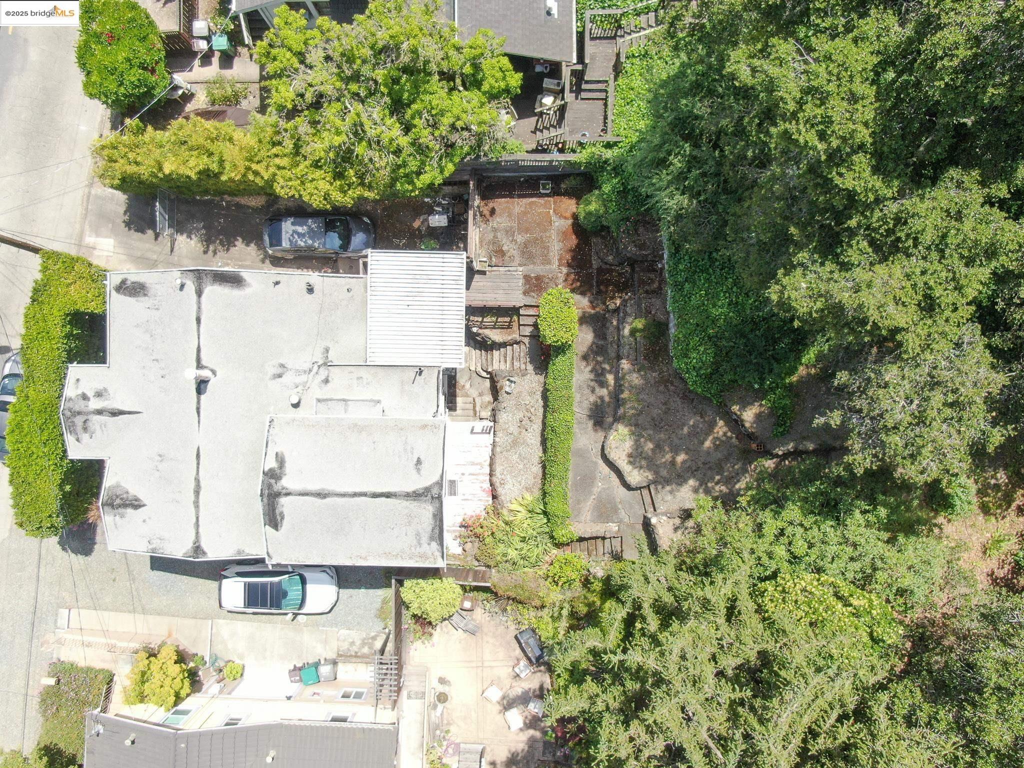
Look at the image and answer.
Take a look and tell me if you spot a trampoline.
No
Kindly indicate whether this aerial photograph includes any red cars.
No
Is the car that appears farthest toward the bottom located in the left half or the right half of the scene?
left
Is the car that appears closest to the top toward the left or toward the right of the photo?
left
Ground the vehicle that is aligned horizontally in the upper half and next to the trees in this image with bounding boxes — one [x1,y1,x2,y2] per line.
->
[262,211,377,266]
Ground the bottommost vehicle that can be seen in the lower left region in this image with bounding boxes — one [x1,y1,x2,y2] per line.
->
[219,560,340,621]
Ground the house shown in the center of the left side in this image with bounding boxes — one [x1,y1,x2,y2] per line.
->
[59,250,468,573]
